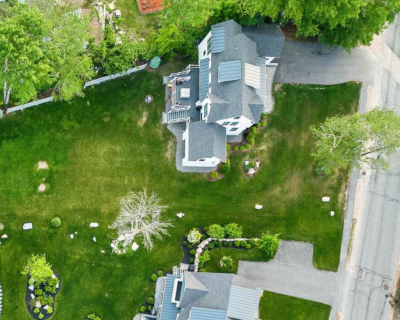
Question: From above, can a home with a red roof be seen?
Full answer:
No, no home with a red roof can be seen from above.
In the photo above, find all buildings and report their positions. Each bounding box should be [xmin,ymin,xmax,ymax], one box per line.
[161,18,291,164]
[142,267,263,320]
